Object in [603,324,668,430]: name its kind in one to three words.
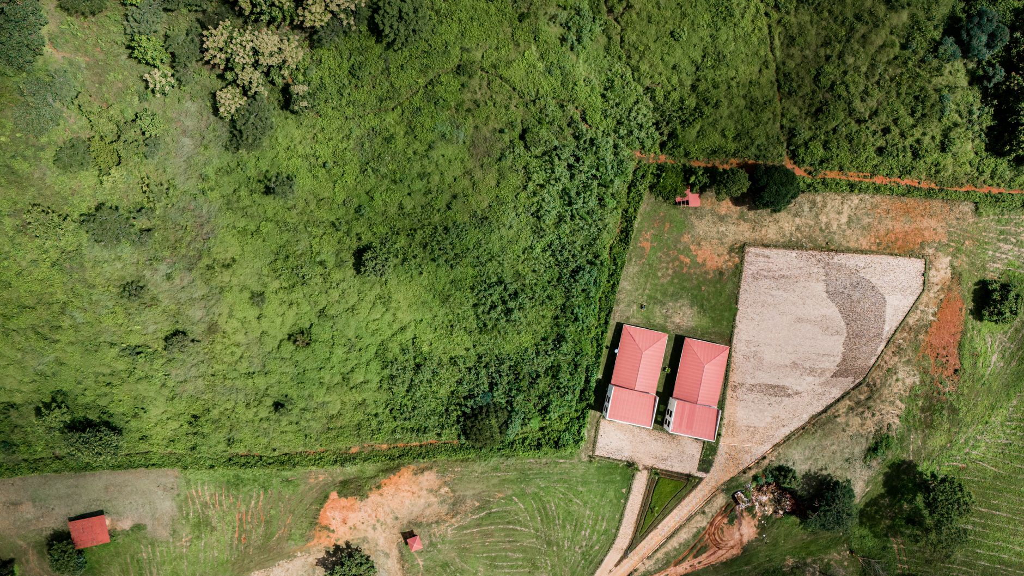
house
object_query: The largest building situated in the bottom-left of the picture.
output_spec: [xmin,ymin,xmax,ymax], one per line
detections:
[68,512,115,548]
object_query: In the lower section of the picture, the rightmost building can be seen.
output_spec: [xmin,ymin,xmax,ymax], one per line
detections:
[663,337,730,444]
